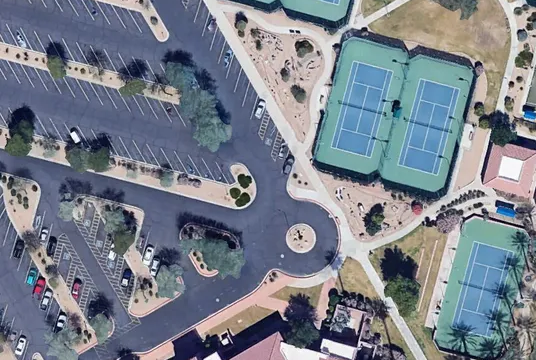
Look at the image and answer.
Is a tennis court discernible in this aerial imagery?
Yes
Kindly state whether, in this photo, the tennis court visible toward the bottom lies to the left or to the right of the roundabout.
right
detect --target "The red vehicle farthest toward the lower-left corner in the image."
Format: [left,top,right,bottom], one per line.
[32,275,46,297]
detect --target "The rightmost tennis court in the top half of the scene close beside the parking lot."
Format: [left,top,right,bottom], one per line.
[380,53,478,198]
